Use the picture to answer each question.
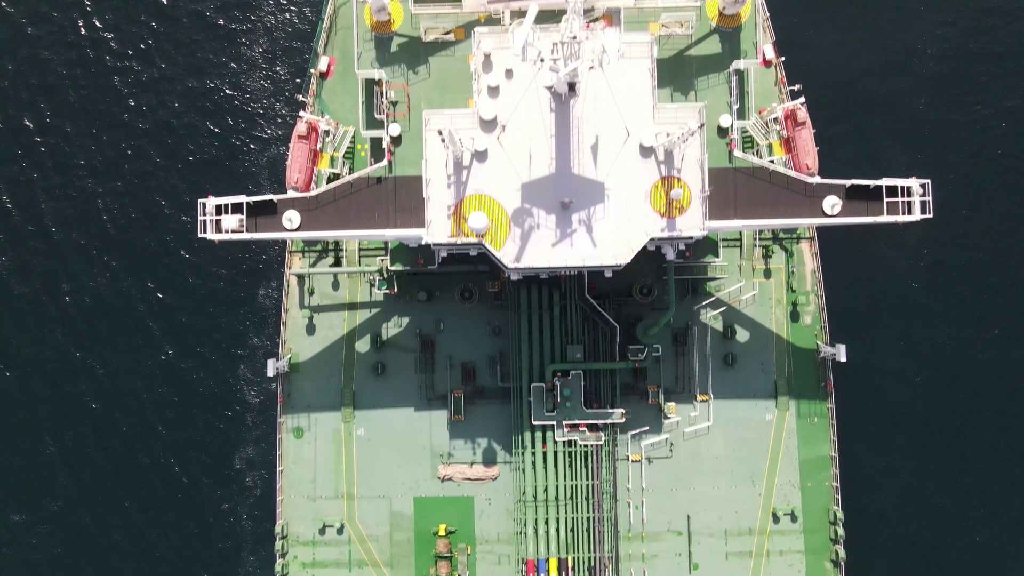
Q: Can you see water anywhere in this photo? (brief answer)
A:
Yes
